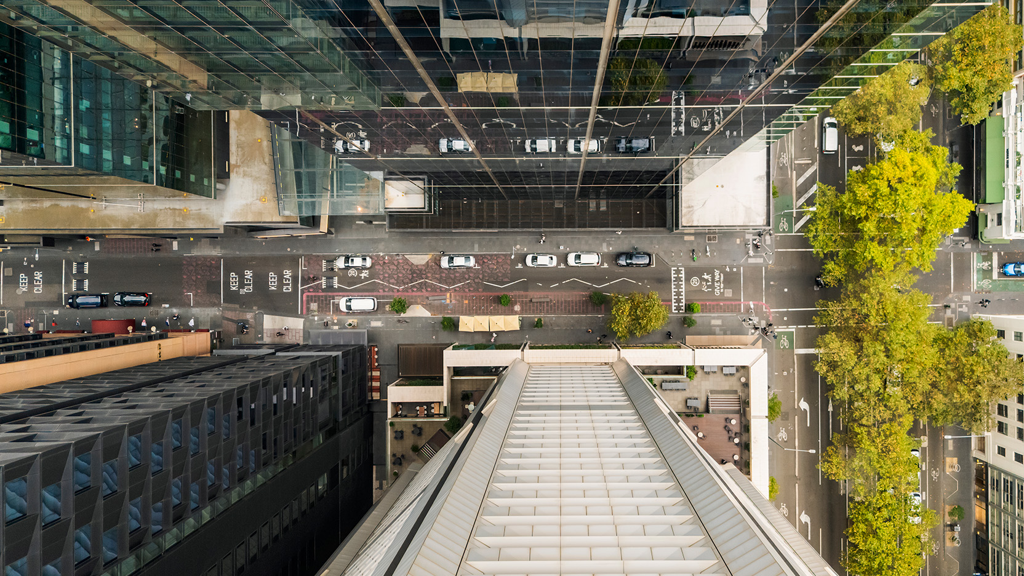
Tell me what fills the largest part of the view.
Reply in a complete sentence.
What you mostly see from above here is buildings.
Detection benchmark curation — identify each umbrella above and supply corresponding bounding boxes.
[459,316,474,331]
[504,315,519,330]
[489,316,504,331]
[474,316,489,331]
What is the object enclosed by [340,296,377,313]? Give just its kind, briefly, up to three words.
vehicle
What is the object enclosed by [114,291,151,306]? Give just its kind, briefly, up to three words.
car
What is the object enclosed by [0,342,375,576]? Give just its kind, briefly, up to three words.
building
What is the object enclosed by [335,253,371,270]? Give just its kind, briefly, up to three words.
car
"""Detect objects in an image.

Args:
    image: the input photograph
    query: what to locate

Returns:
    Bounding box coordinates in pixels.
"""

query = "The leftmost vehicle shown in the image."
[69,293,109,310]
